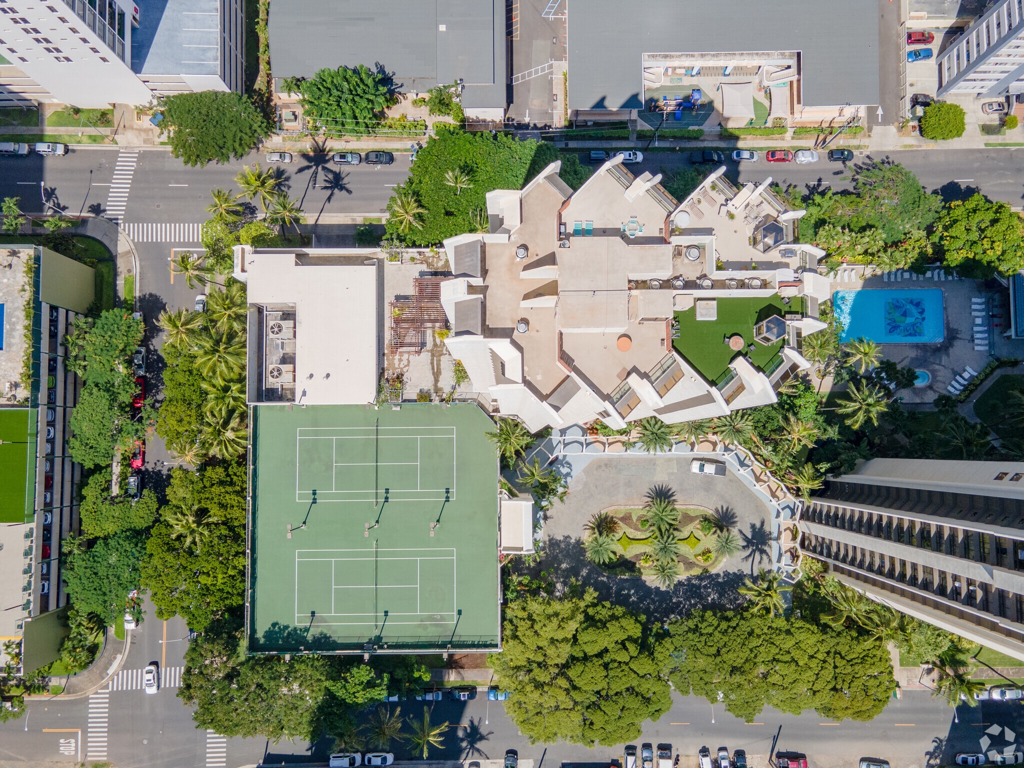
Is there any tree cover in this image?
Yes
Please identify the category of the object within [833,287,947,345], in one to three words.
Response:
swimming pool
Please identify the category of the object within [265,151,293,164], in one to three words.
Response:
vehicle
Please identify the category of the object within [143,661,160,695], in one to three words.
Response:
car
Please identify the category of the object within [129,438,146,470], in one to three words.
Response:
vehicle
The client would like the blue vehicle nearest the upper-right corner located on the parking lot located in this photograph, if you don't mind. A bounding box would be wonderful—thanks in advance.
[905,48,934,64]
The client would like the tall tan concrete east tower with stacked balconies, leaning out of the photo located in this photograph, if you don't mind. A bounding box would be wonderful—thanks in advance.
[801,458,1024,652]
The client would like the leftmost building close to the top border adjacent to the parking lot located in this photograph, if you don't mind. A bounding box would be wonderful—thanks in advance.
[567,0,879,132]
